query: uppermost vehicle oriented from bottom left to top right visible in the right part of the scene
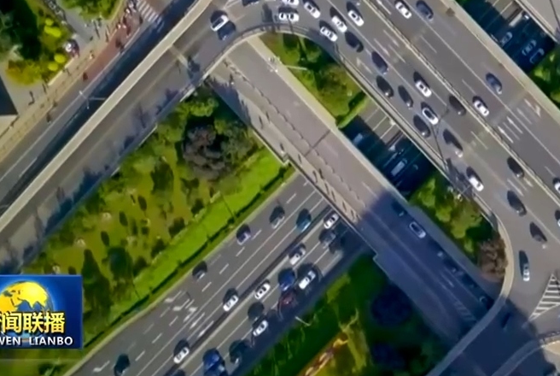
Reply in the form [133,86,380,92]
[509,6,528,26]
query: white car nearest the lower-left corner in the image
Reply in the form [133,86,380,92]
[173,345,190,363]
